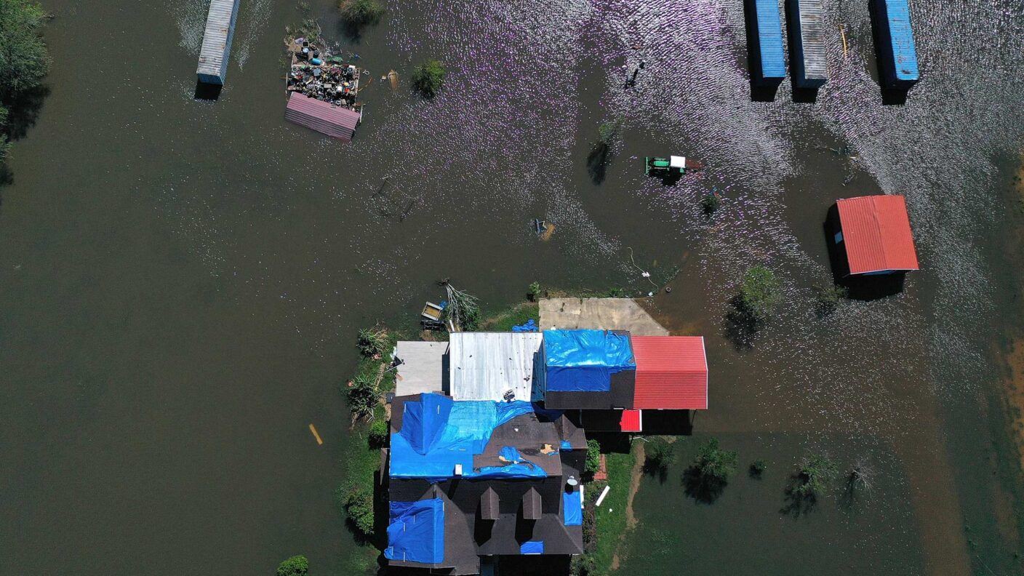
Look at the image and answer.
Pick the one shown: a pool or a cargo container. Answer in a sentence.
Of the two, only a cargo container appears.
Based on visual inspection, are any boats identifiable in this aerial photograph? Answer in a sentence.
No, this view has no boat in it.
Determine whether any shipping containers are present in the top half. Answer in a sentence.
Yes, a shipping container appears in the top half.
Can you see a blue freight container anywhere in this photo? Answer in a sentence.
Yes, there's a blue freight container down there.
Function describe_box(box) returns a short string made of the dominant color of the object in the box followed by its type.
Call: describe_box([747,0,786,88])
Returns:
blue shipping container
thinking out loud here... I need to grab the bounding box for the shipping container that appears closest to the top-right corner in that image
[873,0,919,91]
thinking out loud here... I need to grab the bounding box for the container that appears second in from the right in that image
[789,0,827,90]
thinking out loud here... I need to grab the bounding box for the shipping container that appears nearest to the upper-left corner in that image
[197,0,239,87]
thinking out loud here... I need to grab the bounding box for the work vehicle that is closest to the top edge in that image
[644,156,684,176]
